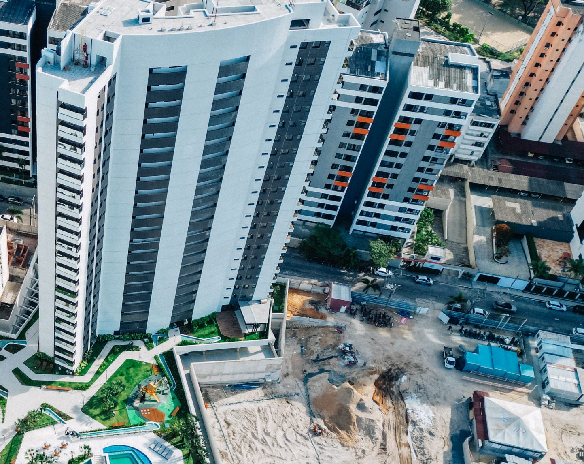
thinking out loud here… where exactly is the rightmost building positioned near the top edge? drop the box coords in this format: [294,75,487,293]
[493,0,584,152]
